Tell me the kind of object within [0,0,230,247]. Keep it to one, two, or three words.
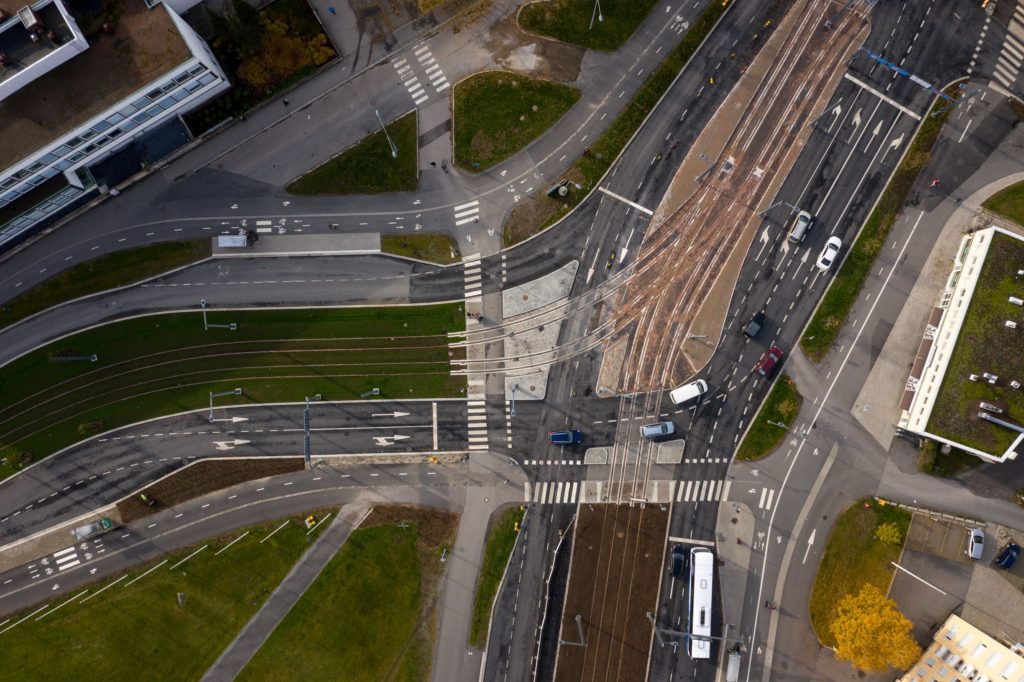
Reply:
building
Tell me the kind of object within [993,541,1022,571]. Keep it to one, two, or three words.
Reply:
car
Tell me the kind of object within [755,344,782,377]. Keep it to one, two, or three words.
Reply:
car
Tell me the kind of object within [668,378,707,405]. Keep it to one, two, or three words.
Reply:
vehicle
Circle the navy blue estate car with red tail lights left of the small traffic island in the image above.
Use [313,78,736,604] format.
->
[549,429,581,446]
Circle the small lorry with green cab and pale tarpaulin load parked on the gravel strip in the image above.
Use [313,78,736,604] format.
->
[71,517,112,541]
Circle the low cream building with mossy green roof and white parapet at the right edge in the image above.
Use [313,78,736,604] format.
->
[897,227,1024,462]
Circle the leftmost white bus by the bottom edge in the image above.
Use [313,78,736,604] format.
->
[686,546,714,658]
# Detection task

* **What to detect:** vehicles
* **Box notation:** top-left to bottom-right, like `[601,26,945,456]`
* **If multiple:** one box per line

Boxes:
[755,344,782,377]
[668,378,707,405]
[993,541,1022,571]
[549,429,581,446]
[71,517,112,541]
[669,543,686,577]
[739,310,767,339]
[686,546,714,658]
[787,211,811,246]
[966,527,987,560]
[815,235,843,271]
[640,421,674,437]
